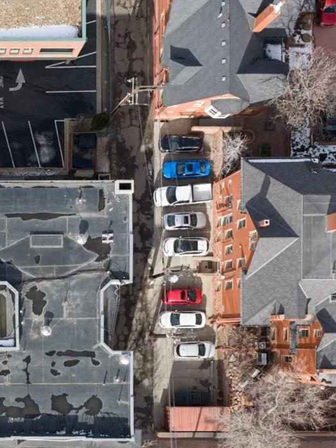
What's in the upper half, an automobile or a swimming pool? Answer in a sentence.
You can see an automobile in the upper half.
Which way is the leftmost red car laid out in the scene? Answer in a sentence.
I'd say the leftmost red car is aligned from side to side in the picture.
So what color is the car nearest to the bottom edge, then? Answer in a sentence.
From above, the car nearest to the bottom edge appears white.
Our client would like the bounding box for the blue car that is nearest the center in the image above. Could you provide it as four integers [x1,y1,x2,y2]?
[161,156,211,181]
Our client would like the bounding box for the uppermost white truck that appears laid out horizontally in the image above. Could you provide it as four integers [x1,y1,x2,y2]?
[153,182,214,206]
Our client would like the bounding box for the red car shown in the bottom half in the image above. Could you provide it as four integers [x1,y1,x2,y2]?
[161,285,202,306]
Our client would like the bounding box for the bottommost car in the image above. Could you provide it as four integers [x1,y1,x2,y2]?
[173,339,215,361]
